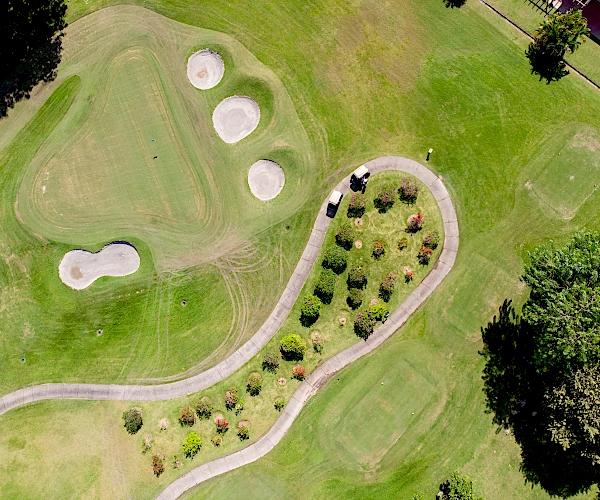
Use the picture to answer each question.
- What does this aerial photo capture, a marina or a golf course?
golf course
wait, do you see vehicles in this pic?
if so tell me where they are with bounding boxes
[327,191,342,209]
[351,164,370,182]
